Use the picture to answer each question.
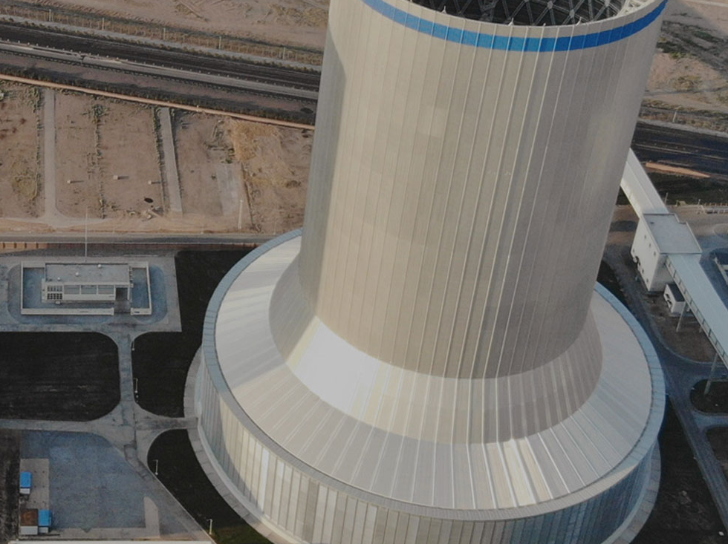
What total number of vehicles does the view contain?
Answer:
none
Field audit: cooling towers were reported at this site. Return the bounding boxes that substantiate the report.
[195,0,668,544]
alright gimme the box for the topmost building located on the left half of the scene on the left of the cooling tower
[39,260,133,301]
